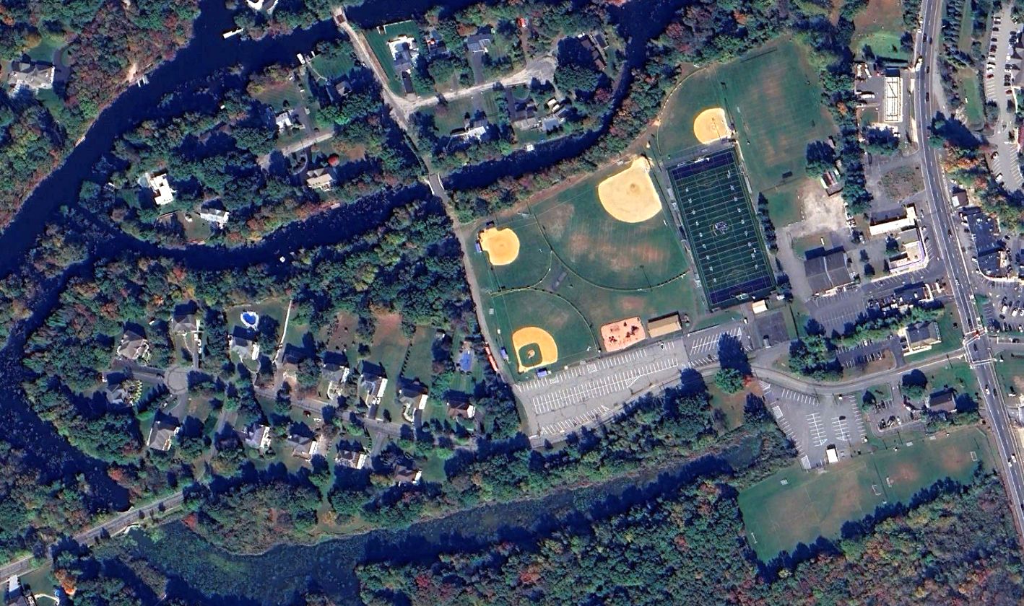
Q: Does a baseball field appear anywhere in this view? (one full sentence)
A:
Yes, I can see a baseball field in this picture.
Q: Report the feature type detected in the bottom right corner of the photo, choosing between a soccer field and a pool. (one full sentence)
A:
There is a soccer field in the bottom right corner of the photo.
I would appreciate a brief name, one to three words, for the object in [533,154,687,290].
baseball field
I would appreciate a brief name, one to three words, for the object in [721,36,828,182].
sports field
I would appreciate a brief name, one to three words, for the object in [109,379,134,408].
house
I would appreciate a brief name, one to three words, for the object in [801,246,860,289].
building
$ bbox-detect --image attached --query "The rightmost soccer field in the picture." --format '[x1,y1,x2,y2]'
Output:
[870,426,992,522]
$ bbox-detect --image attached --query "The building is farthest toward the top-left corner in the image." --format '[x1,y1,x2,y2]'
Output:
[9,64,62,90]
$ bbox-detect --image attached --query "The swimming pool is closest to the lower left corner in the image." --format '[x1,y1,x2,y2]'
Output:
[241,311,259,330]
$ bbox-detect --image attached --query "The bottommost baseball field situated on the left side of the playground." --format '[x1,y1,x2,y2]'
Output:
[498,290,599,380]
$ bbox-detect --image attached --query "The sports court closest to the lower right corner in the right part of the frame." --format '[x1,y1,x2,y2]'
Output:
[755,310,787,344]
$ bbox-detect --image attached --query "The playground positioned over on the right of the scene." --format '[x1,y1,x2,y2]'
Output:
[601,317,646,352]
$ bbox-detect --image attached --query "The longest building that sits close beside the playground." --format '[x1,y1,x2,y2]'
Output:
[648,313,684,339]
